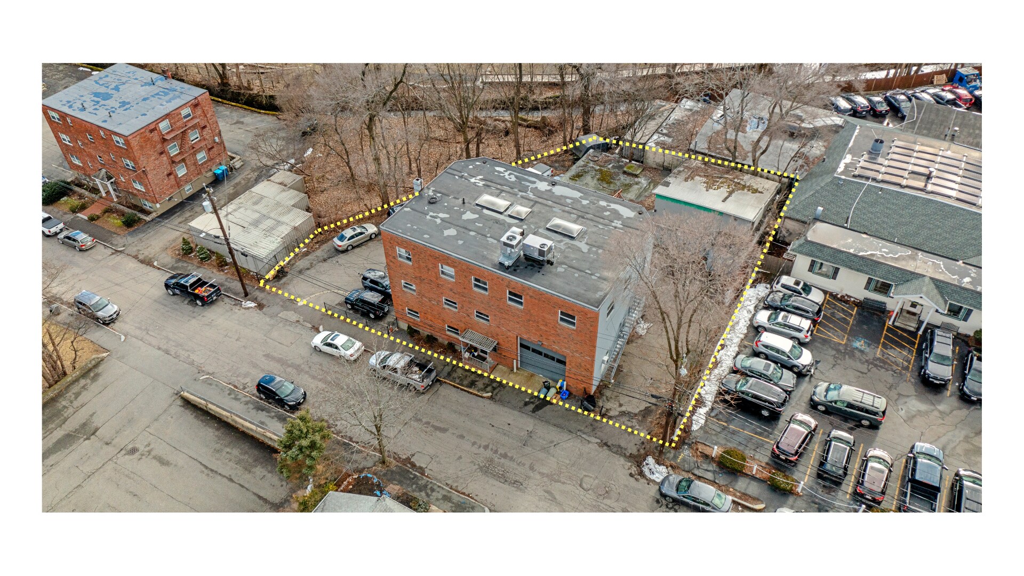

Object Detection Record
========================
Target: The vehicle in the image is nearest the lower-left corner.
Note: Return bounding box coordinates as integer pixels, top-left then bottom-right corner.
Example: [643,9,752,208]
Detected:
[72,291,122,324]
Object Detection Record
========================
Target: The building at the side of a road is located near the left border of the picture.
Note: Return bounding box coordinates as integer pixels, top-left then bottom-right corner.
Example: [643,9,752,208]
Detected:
[42,63,229,214]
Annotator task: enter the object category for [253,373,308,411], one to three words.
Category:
car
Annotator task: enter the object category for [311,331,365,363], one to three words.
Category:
car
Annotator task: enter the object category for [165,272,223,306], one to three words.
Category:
truck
